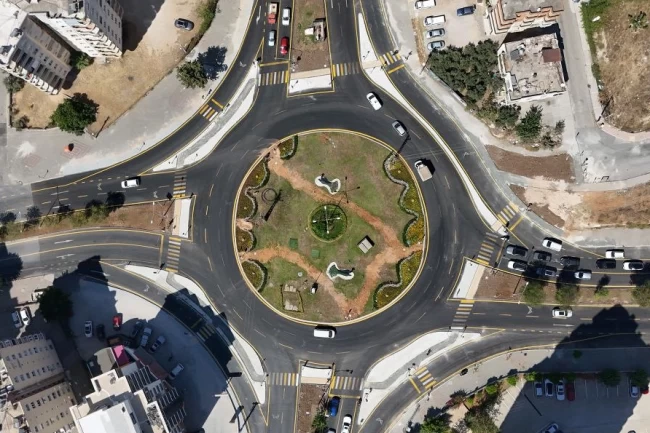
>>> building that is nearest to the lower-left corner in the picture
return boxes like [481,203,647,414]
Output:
[0,336,76,433]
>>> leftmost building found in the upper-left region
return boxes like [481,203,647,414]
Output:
[0,6,71,97]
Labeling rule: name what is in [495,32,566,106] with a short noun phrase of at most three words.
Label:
building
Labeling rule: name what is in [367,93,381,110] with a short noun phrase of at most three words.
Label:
car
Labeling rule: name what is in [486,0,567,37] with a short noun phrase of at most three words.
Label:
building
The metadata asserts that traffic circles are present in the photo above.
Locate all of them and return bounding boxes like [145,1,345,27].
[234,130,428,324]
